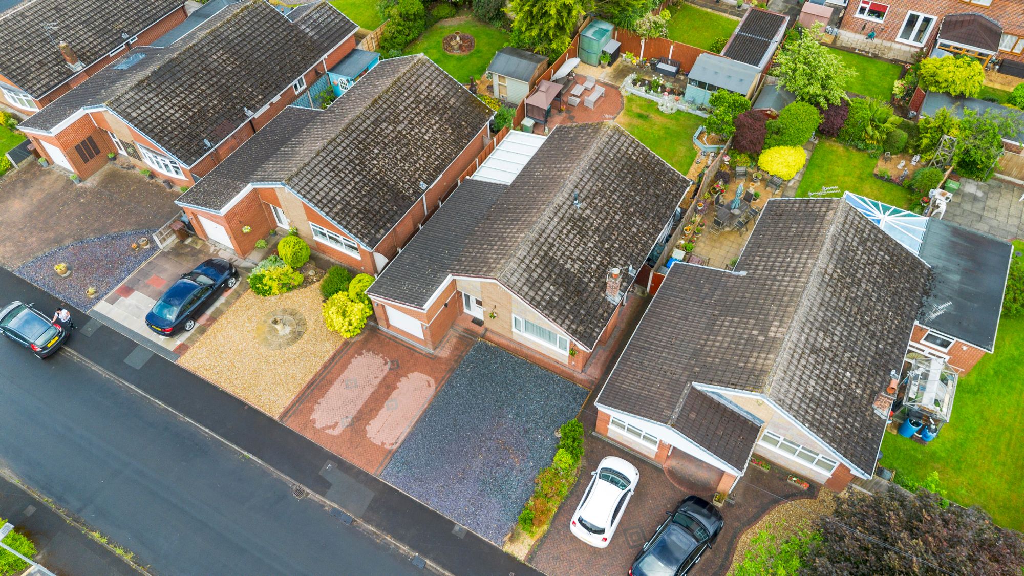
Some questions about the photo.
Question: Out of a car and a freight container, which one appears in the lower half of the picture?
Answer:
car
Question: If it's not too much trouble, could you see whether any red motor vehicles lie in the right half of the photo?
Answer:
No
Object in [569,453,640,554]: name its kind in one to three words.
car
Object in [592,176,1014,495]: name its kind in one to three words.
house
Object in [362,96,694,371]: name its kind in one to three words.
house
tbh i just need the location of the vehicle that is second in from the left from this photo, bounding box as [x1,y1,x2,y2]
[144,255,240,338]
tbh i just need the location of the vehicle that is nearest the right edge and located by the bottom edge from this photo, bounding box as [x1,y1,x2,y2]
[622,491,721,576]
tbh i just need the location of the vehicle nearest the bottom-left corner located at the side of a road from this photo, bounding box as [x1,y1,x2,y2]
[0,298,68,360]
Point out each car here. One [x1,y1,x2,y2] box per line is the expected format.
[144,255,240,338]
[622,491,721,576]
[0,298,68,360]
[569,453,640,554]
